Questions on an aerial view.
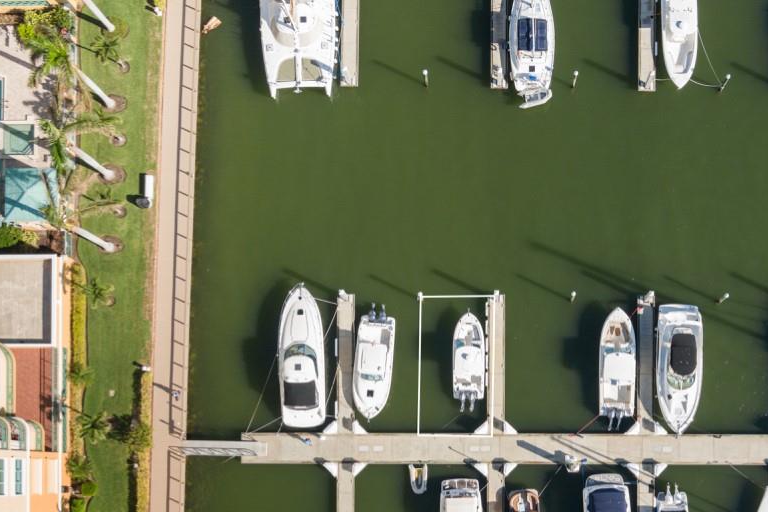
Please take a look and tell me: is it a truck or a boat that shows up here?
boat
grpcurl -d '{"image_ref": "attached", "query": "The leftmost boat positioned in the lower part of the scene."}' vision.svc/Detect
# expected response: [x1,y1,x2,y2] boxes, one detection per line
[280,280,331,429]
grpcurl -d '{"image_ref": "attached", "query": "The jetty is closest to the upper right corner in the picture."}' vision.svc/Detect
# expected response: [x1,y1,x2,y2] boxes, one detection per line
[638,0,658,93]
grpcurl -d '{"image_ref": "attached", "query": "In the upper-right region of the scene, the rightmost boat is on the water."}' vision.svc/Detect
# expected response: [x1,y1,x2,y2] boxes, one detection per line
[660,0,698,94]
